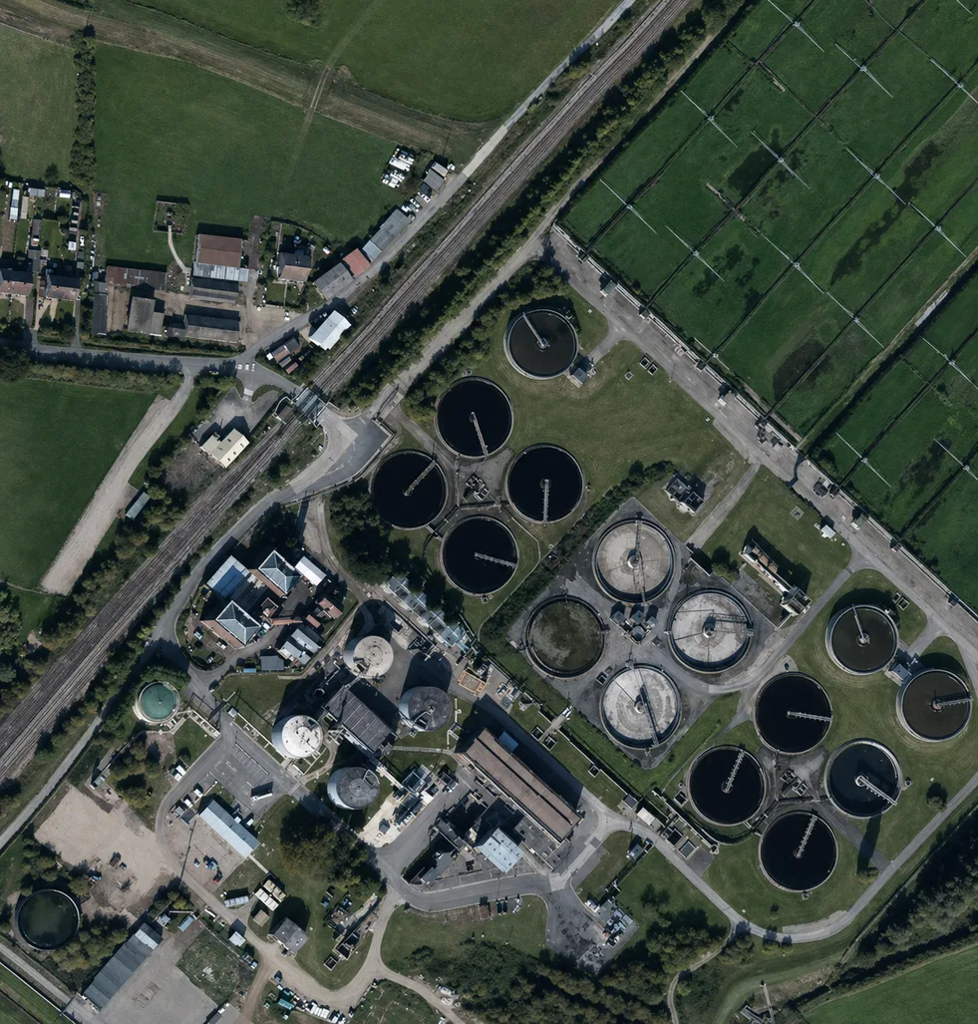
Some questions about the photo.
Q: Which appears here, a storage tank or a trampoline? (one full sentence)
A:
The one in the frame is a storage tank.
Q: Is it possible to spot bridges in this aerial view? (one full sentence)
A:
Yes, there's a bridge down there.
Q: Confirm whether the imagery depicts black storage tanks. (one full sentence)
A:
Yes, I can see a black storage tank in this picture.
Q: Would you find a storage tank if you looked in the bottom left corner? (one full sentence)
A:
Yes, the scene does show a storage tank in the bottom left corner.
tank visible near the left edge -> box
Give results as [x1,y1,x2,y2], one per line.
[12,888,81,956]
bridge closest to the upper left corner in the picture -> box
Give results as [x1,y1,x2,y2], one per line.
[293,388,326,428]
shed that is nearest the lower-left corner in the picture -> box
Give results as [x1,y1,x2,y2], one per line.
[81,936,151,1010]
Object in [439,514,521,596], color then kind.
black storage tank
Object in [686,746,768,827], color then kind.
black storage tank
